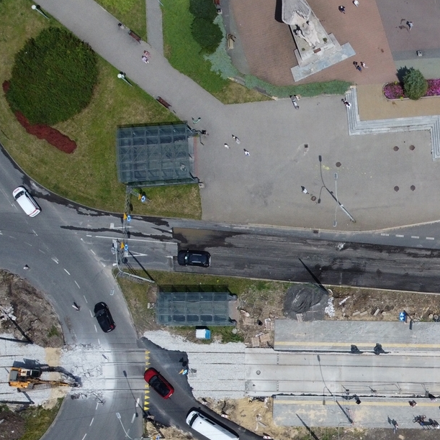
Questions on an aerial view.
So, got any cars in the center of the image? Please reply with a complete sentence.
Yes, in the center of the image there is a car.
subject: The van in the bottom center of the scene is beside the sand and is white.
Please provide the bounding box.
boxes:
[190,411,239,440]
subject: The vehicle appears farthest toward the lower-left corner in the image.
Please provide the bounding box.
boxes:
[8,367,79,389]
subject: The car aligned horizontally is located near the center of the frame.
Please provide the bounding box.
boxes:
[177,249,214,267]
